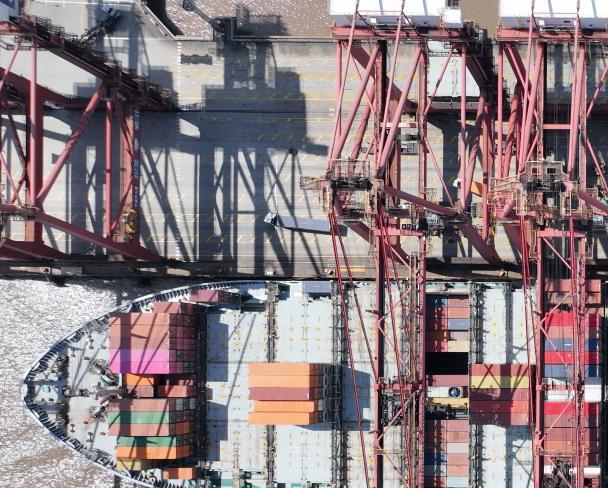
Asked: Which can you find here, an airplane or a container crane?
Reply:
container crane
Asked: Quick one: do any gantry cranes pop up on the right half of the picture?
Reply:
Yes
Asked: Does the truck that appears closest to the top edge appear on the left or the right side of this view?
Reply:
left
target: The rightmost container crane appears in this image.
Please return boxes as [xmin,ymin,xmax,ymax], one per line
[478,0,608,488]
